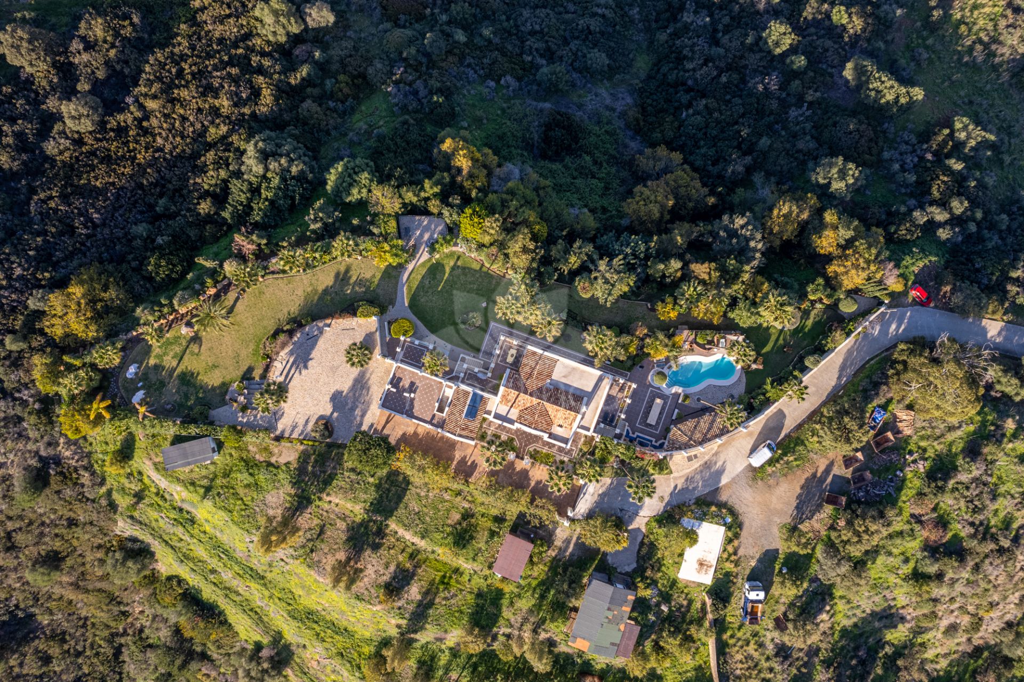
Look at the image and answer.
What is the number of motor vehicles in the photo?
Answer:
3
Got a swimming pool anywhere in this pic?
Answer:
Yes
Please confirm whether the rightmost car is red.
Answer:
Yes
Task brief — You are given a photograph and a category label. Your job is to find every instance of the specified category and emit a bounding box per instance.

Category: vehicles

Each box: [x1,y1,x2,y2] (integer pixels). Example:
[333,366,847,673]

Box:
[744,580,765,624]
[747,439,778,468]
[906,283,932,307]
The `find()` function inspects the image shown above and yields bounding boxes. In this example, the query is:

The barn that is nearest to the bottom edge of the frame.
[568,571,641,658]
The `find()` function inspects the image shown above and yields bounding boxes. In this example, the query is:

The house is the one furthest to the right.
[665,410,736,451]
